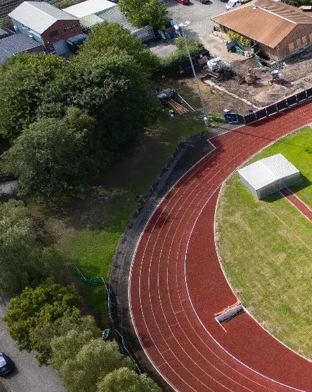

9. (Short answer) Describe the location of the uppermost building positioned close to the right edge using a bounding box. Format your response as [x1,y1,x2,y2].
[210,0,312,60]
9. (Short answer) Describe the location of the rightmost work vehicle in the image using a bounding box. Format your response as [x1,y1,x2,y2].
[268,64,293,84]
